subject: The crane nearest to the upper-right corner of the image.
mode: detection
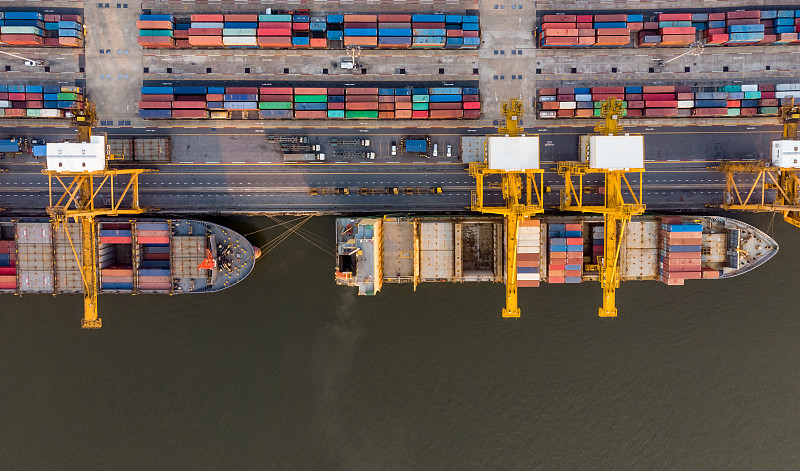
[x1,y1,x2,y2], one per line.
[702,95,800,231]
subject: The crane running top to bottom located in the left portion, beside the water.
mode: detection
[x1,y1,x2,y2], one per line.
[48,99,160,330]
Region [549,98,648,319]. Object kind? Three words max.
container crane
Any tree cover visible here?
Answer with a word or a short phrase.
No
